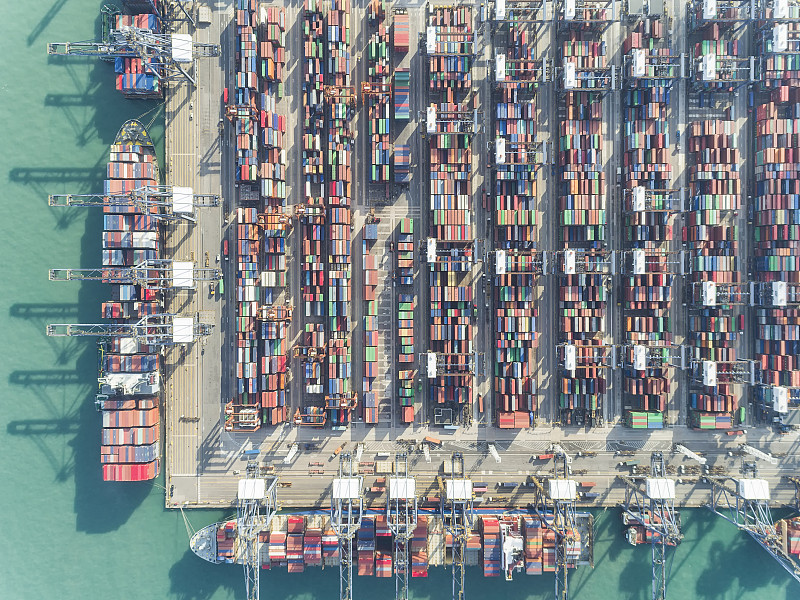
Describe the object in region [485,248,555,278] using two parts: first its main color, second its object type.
white crane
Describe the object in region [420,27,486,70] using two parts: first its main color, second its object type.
white crane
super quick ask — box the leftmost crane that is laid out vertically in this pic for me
[237,450,288,600]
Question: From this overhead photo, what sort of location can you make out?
port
